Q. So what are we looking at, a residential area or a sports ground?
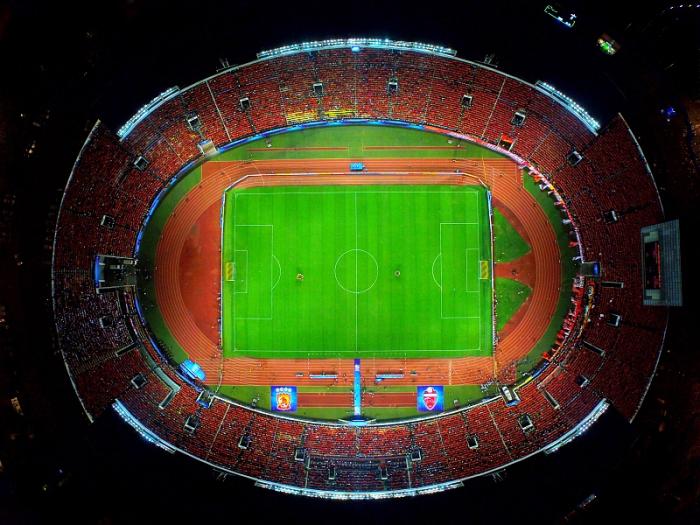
sports ground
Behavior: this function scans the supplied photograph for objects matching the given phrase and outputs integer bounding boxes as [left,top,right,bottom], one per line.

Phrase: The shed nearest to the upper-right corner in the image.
[598,27,628,51]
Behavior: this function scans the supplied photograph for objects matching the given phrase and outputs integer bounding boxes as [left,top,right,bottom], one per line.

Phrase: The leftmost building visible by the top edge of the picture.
[542,1,577,31]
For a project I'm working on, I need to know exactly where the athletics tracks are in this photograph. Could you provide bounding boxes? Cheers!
[154,159,561,386]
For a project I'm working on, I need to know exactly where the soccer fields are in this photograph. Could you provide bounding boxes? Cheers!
[224,185,491,358]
